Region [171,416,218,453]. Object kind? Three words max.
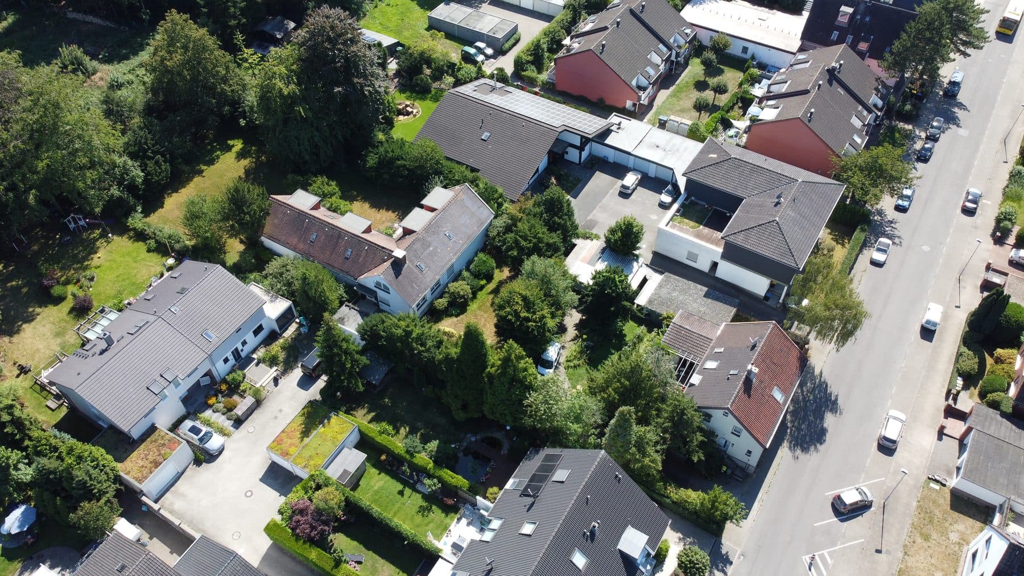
car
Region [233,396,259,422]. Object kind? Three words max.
building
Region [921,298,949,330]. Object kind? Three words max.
van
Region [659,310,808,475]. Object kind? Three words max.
house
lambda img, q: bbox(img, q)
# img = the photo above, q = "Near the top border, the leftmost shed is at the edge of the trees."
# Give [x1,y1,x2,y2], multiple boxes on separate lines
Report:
[246,15,301,51]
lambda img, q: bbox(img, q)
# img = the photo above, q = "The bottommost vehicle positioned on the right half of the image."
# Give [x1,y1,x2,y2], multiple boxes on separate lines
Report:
[832,484,878,513]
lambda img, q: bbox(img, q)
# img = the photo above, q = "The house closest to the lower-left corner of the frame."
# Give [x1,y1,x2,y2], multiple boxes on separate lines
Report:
[70,529,173,576]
